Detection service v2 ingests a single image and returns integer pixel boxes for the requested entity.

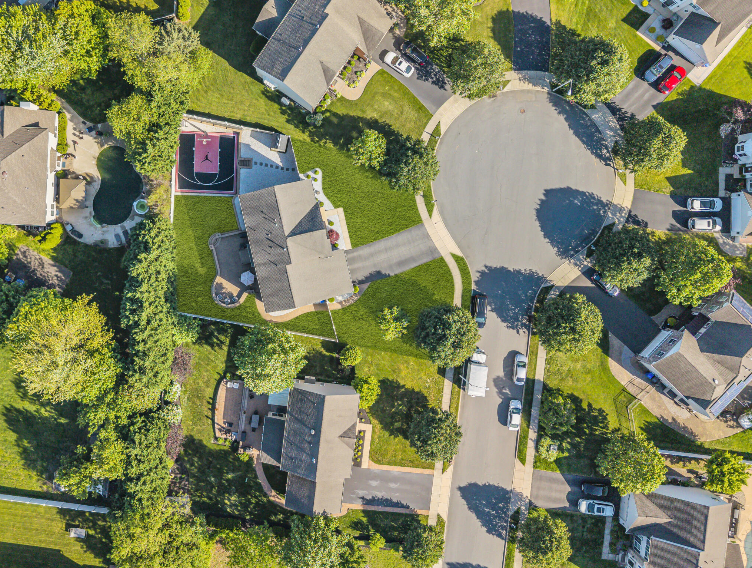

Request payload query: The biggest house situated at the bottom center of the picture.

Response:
[259,375,360,516]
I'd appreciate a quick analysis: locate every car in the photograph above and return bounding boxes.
[687,197,723,212]
[473,294,490,328]
[579,480,609,498]
[578,498,615,517]
[506,399,523,431]
[642,51,675,85]
[589,274,621,299]
[657,66,687,96]
[382,51,417,77]
[512,353,530,386]
[687,216,722,232]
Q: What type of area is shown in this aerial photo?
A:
residential area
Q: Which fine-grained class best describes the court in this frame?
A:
basketball court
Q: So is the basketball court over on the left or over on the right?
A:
left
